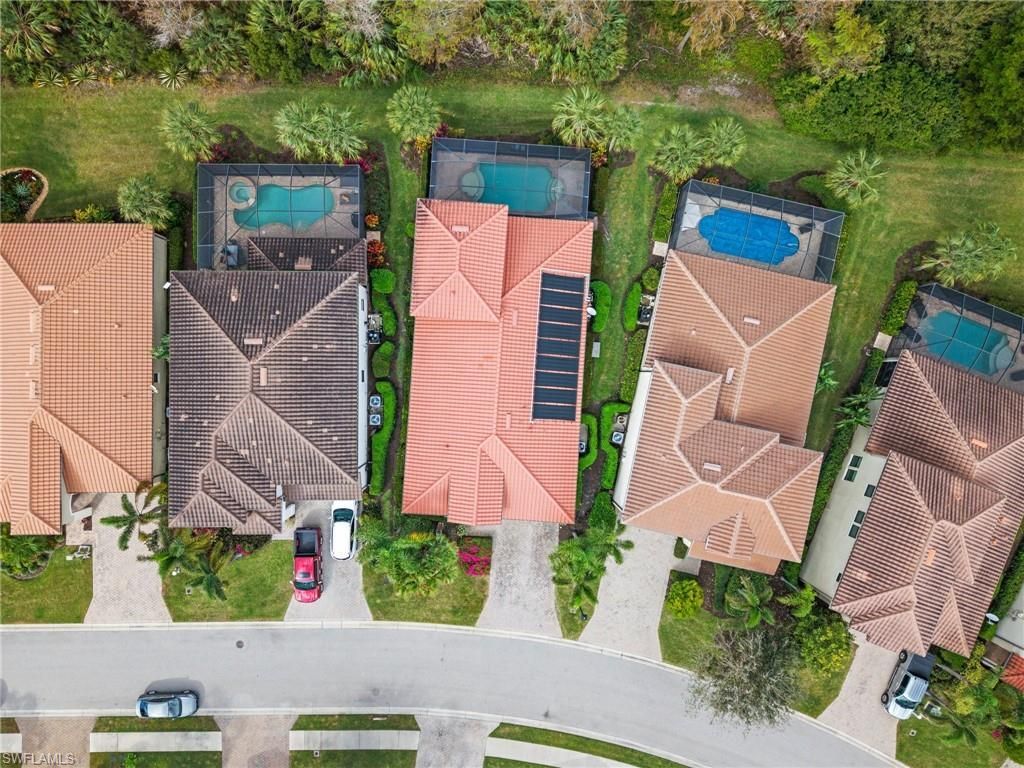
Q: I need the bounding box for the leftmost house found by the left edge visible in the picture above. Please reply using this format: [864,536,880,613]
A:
[0,222,167,537]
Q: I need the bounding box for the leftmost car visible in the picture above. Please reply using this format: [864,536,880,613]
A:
[137,686,202,718]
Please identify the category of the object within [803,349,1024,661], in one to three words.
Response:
house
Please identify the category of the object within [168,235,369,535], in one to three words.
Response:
house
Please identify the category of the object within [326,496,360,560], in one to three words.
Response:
car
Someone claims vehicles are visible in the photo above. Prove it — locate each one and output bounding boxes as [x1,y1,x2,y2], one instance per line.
[877,645,946,721]
[290,526,323,603]
[326,496,360,560]
[137,686,202,718]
